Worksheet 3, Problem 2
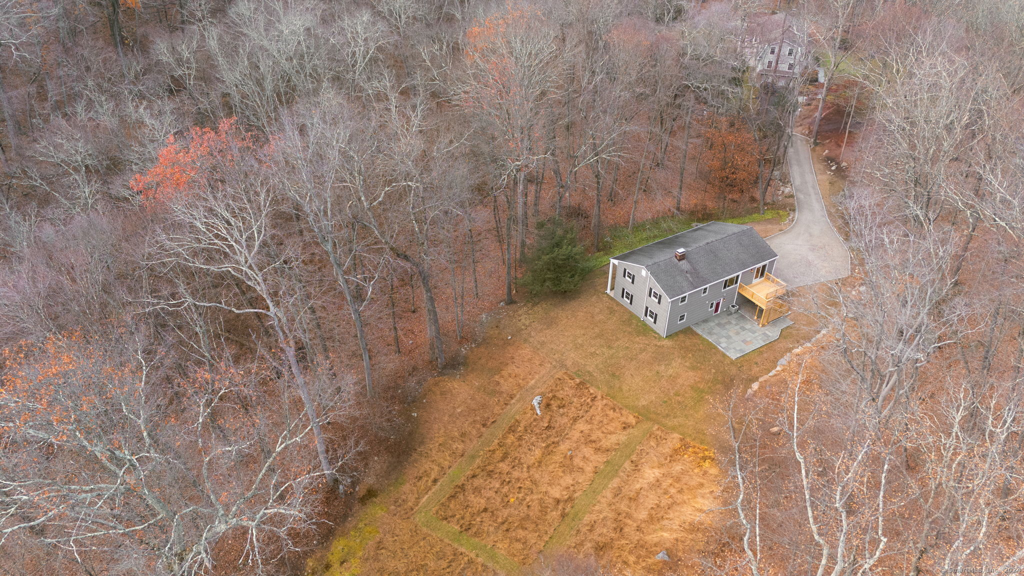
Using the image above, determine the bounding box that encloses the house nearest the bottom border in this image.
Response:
[607,222,779,335]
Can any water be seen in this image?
No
